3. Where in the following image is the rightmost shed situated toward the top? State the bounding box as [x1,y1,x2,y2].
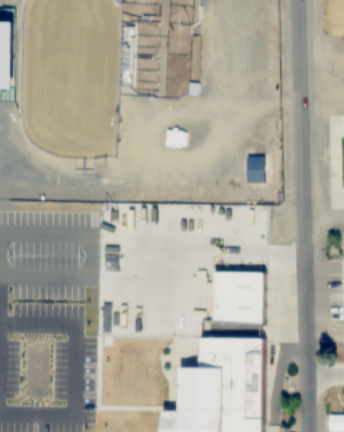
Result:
[248,157,266,182]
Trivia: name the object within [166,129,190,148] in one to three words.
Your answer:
shed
